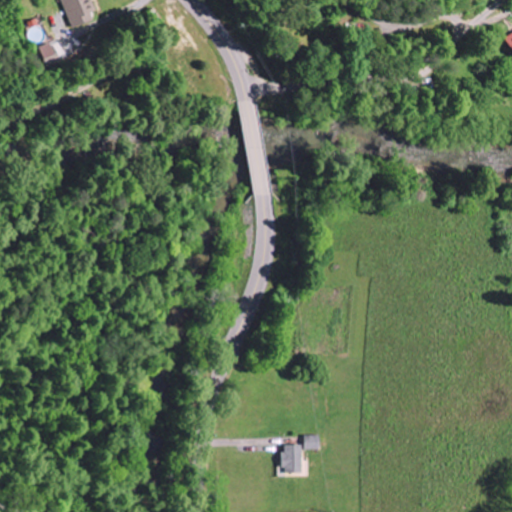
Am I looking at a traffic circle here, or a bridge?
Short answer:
bridge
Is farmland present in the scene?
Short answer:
Yes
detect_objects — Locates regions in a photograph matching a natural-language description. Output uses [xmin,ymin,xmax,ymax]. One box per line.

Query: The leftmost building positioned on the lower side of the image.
[281,444,302,474]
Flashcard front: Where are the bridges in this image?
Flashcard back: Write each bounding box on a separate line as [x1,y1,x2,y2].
[230,91,278,203]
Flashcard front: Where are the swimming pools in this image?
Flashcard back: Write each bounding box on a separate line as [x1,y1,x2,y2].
[26,25,44,44]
